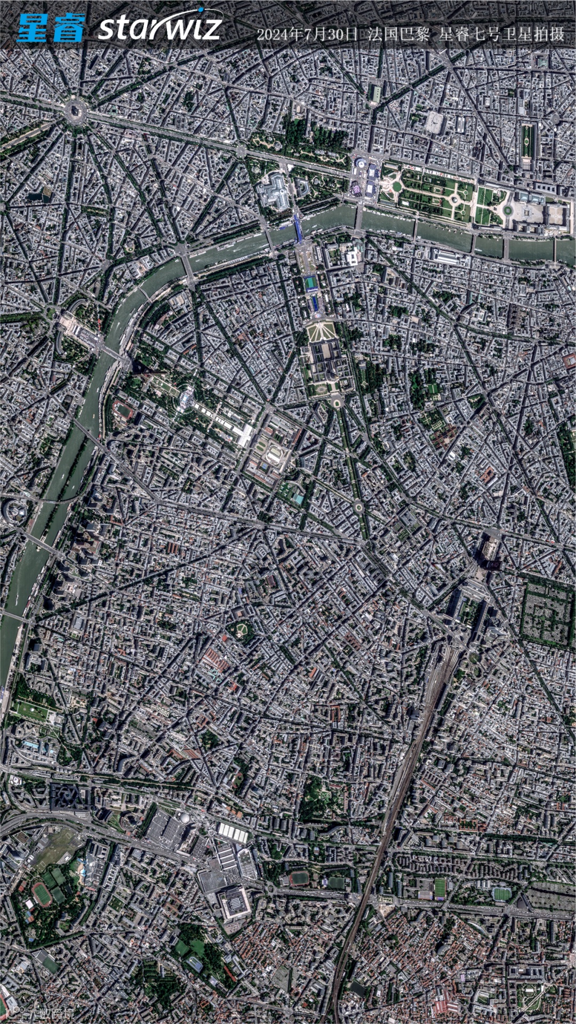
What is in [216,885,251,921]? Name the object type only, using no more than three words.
building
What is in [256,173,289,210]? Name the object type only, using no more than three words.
building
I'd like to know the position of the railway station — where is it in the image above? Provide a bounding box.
[438,579,490,645]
